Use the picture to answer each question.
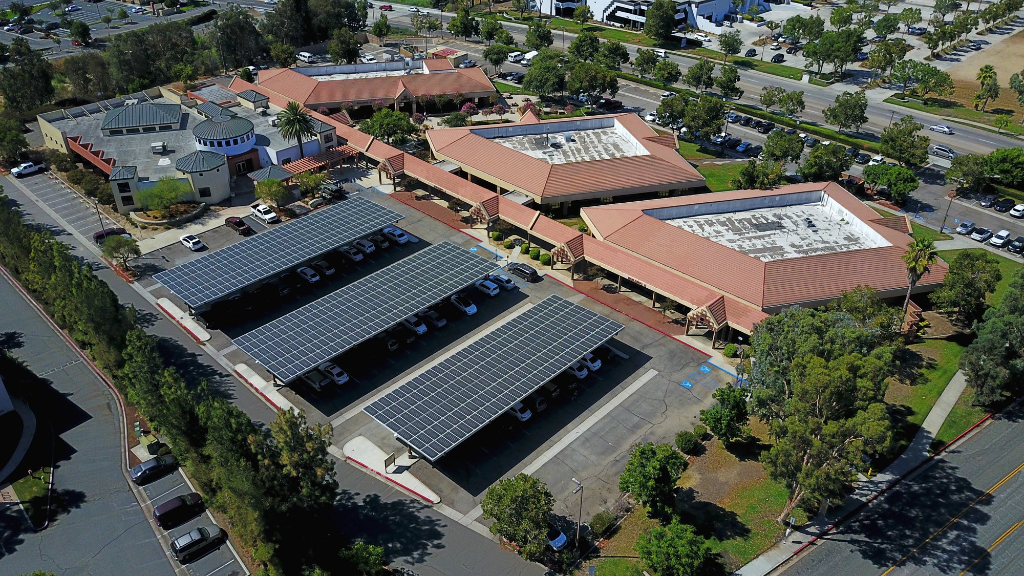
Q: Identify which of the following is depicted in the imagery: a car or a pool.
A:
car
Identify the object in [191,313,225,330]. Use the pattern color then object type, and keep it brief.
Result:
black car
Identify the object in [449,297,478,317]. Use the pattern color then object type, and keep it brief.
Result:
black car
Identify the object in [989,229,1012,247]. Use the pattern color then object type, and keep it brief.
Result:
white car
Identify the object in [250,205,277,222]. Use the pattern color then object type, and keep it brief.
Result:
white vehicle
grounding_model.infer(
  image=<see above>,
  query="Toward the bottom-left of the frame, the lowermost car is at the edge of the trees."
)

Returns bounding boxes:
[168,529,228,565]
